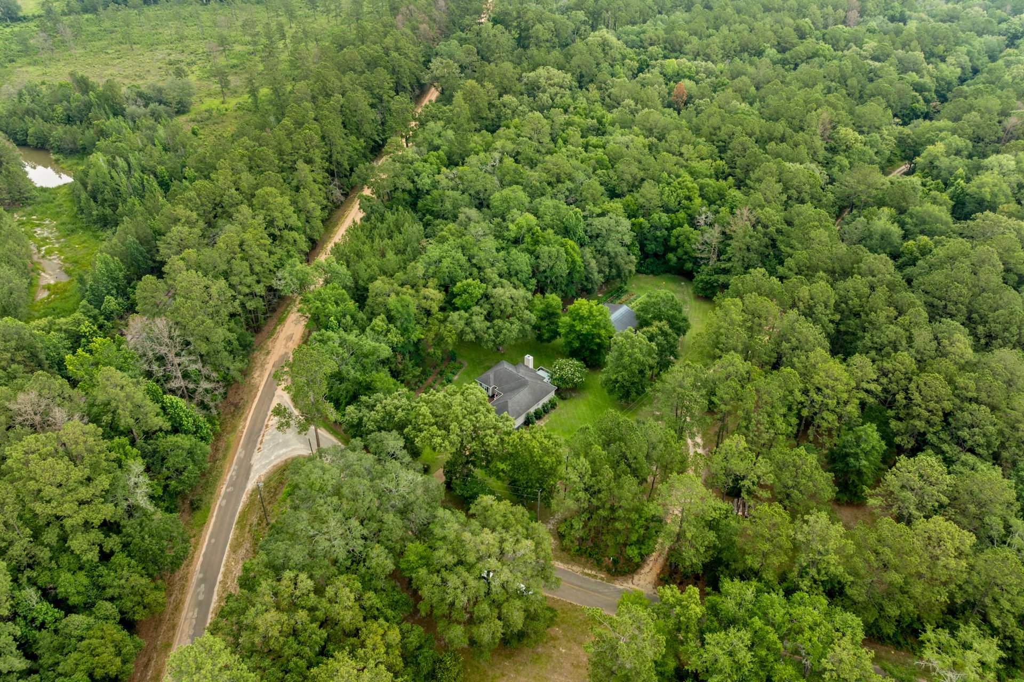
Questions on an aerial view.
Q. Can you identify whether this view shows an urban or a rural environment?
rural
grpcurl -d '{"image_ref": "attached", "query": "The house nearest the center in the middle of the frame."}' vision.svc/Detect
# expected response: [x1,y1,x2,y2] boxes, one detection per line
[475,352,563,428]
